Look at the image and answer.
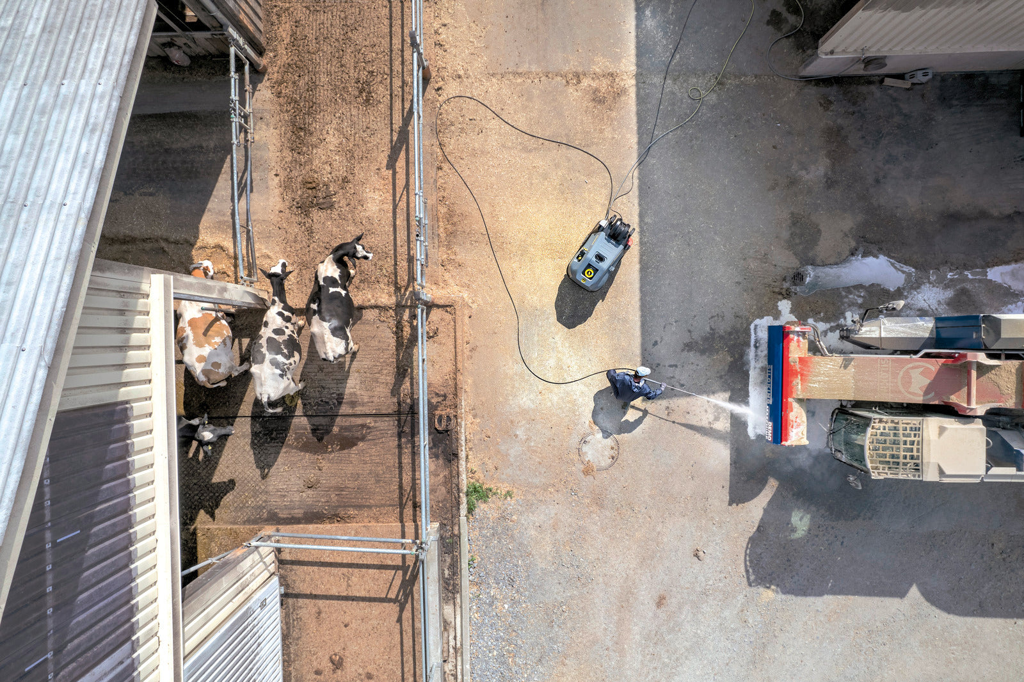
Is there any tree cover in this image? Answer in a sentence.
No, there's no tree cover in this view.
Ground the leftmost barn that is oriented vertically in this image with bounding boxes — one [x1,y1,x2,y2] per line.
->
[0,0,282,682]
